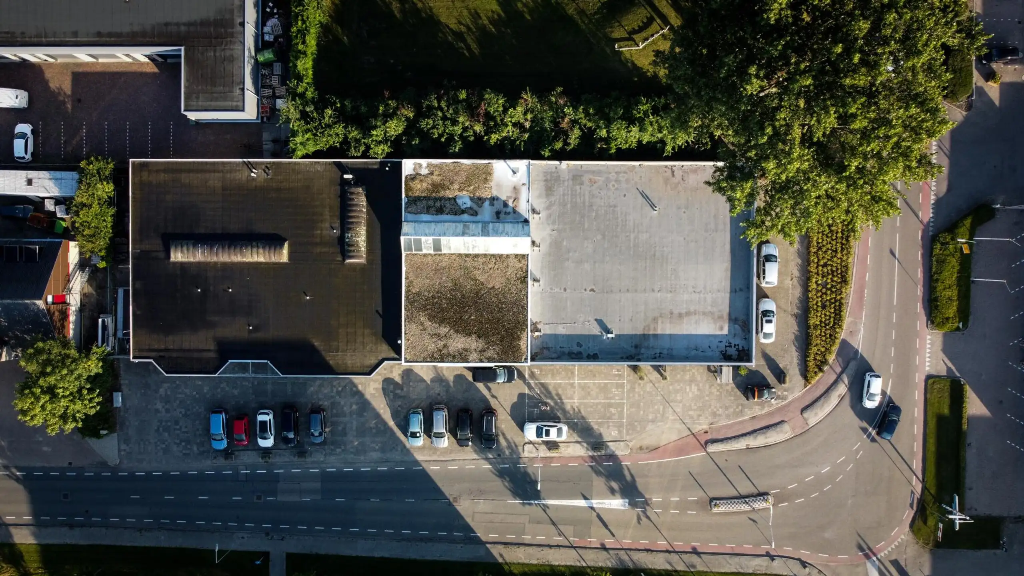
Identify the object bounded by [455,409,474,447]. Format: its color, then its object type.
black car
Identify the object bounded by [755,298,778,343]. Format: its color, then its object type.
white car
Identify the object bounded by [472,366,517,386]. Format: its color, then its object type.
black car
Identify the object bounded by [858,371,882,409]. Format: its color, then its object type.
white car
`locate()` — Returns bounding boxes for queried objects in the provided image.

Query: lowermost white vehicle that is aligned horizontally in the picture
[523,422,568,443]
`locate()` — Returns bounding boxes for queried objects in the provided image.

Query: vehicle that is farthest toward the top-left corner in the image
[0,87,30,111]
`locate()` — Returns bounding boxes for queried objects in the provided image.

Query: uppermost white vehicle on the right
[757,243,780,287]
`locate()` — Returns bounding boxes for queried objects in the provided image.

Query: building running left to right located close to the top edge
[0,0,264,126]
